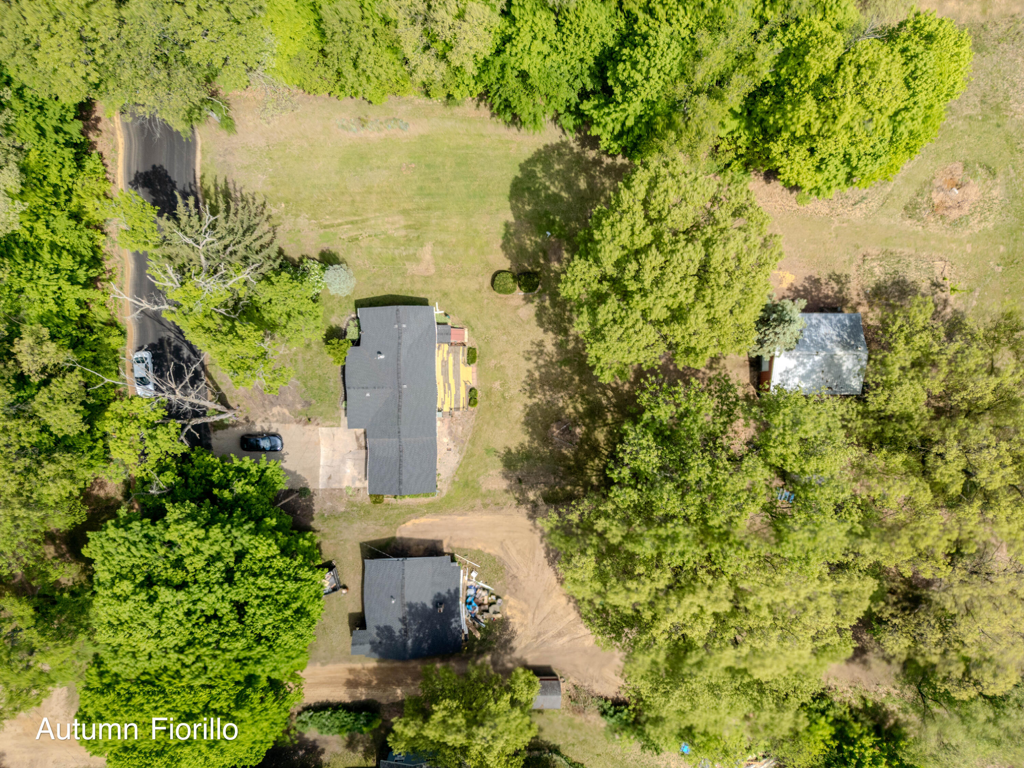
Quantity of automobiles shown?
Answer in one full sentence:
The picture shows 2 automobiles.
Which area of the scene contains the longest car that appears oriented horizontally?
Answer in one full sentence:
Look in the left portion of the view to spot the longest car that appears oriented horizontally.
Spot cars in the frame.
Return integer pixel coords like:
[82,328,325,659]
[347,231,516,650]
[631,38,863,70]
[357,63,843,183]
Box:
[238,434,282,454]
[129,351,153,395]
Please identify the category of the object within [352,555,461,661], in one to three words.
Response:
house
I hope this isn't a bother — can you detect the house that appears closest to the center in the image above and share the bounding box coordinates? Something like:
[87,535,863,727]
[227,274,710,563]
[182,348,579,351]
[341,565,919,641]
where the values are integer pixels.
[344,302,444,499]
